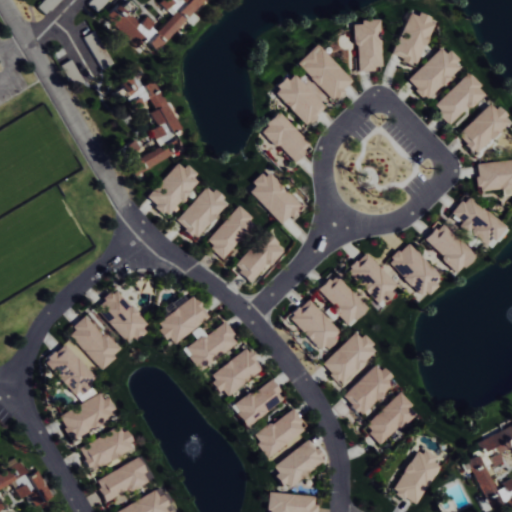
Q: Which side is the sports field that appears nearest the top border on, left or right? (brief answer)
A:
left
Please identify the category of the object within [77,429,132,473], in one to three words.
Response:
house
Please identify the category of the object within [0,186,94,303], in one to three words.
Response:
sports field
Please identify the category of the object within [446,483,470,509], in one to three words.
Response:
swimming pool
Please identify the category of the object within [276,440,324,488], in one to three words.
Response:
house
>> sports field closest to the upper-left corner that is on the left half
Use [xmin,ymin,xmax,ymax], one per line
[0,105,82,216]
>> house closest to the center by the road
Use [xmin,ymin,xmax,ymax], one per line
[235,235,288,287]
